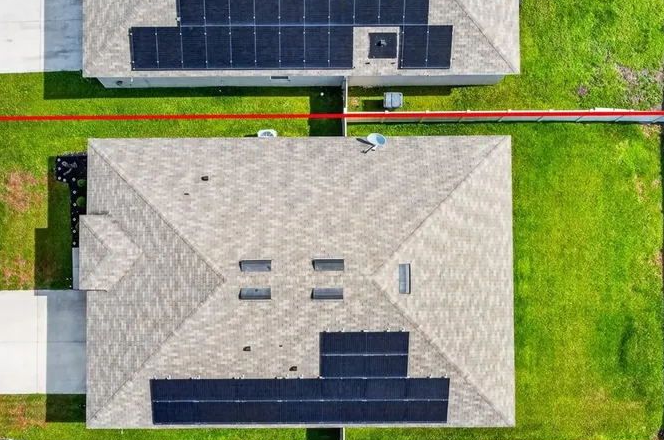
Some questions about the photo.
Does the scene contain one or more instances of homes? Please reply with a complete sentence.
Yes, I can see a home in this picture.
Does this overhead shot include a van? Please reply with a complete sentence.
No, no van is visible in the view.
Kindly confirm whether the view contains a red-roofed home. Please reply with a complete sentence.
No, I can see no red-roofed home in this picture.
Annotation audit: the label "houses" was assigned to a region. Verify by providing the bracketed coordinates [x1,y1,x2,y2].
[82,0,520,89]
[79,135,515,428]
